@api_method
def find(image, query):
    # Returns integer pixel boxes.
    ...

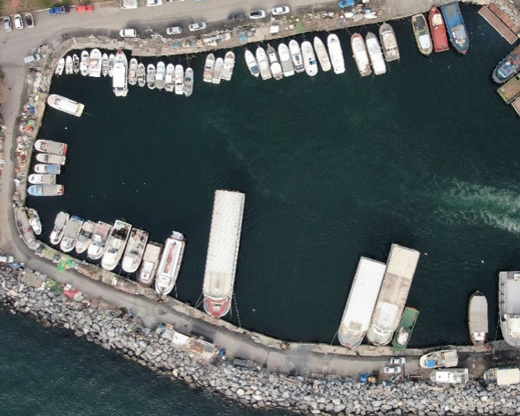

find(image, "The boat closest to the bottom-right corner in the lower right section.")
[484,366,520,384]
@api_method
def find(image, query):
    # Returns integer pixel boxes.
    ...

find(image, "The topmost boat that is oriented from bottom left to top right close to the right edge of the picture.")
[492,42,520,84]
